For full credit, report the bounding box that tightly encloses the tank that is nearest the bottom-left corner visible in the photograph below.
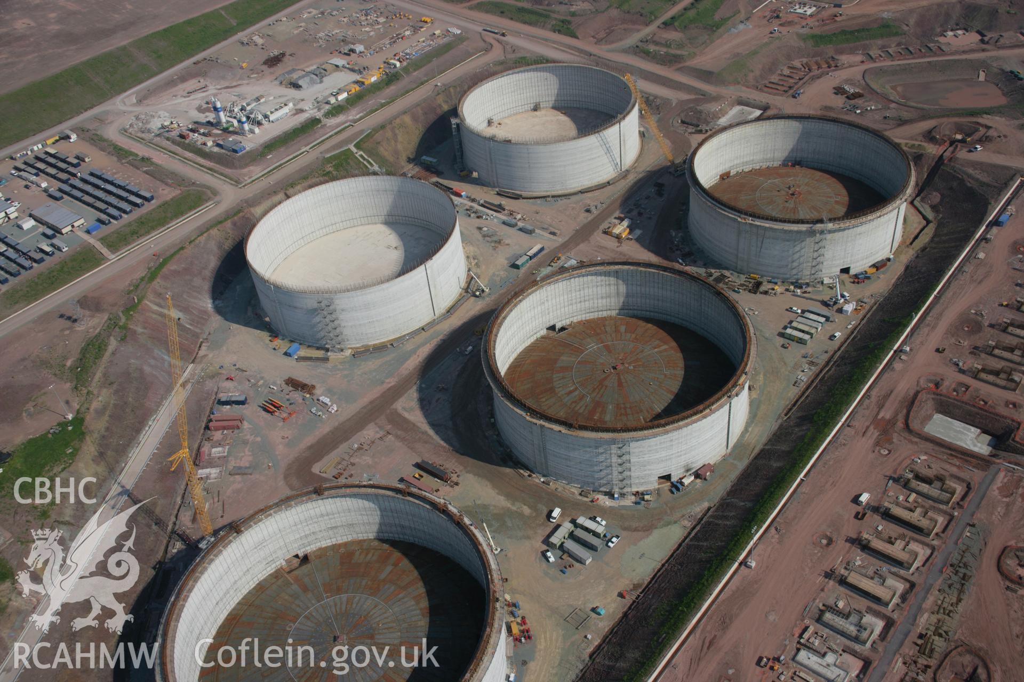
[158,480,510,682]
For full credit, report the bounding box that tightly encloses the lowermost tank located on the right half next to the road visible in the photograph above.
[487,261,759,493]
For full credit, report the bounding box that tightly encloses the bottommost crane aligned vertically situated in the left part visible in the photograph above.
[166,292,229,547]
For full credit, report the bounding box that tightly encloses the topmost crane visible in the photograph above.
[625,73,687,174]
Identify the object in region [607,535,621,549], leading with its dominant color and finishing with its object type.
white vehicle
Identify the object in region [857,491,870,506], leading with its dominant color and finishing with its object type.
white vehicle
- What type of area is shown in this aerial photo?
industrial area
